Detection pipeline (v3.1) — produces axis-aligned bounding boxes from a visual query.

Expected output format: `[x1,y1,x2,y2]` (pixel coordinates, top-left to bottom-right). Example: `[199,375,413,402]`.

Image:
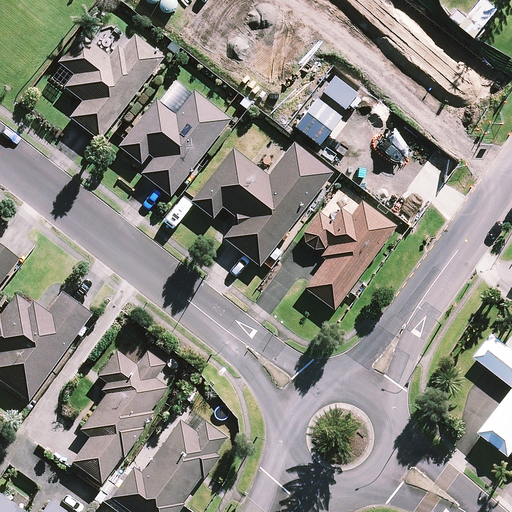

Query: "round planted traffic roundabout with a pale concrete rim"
[272,368,408,504]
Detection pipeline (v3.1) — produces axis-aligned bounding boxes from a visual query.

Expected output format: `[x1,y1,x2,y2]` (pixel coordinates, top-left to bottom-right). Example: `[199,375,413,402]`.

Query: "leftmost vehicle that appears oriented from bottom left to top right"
[76,276,94,298]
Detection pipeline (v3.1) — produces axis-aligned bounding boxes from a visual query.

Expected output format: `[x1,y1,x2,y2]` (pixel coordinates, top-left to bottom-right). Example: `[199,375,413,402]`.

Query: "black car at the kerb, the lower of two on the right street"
[484,222,504,246]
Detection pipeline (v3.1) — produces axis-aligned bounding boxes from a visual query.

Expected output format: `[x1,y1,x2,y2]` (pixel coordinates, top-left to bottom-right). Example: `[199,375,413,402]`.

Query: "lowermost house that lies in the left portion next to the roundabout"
[104,420,228,512]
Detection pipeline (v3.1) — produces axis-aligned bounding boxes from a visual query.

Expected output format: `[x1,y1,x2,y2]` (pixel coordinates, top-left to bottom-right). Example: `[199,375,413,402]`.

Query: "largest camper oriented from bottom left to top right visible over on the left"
[167,196,194,226]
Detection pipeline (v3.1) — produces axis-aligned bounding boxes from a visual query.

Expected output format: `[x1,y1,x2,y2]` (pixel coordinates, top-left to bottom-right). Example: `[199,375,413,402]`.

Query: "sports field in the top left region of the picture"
[0,0,98,111]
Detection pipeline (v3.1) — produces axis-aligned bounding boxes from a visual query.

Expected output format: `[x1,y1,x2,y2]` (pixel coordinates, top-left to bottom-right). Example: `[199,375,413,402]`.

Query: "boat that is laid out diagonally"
[375,134,408,160]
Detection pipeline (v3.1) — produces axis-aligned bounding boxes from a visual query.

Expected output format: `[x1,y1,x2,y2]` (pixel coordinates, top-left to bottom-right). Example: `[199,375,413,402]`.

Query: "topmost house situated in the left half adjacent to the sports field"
[60,34,166,139]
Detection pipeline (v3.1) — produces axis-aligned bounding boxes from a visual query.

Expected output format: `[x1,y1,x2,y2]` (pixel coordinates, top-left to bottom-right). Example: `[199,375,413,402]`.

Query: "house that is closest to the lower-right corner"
[478,386,512,456]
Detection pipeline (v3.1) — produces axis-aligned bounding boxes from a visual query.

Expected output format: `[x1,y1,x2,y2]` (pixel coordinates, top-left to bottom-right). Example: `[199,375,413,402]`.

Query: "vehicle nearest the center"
[228,255,248,278]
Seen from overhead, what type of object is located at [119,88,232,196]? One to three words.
house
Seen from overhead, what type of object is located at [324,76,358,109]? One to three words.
shed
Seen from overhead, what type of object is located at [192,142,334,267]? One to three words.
house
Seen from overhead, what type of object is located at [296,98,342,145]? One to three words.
shed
